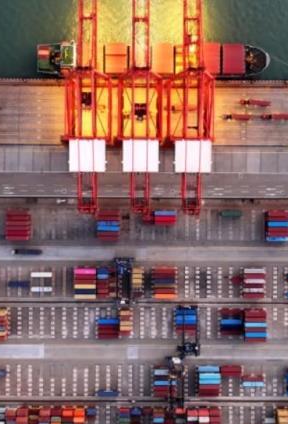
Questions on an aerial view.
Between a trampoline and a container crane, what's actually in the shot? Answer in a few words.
container crane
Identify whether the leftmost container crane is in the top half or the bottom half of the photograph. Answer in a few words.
top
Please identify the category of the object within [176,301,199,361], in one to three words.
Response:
crane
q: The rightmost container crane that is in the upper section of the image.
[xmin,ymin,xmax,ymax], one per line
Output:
[164,0,214,213]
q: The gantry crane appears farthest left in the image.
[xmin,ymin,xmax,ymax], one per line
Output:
[67,0,117,213]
